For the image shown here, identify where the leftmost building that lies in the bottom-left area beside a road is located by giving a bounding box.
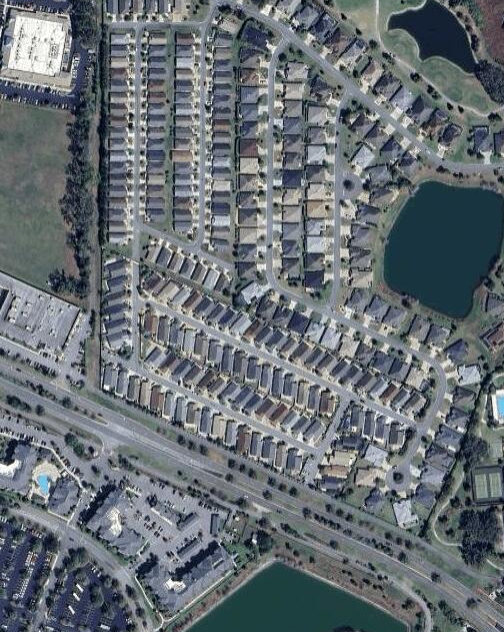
[0,442,33,495]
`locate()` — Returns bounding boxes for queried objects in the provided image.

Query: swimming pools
[28,461,60,500]
[492,389,504,424]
